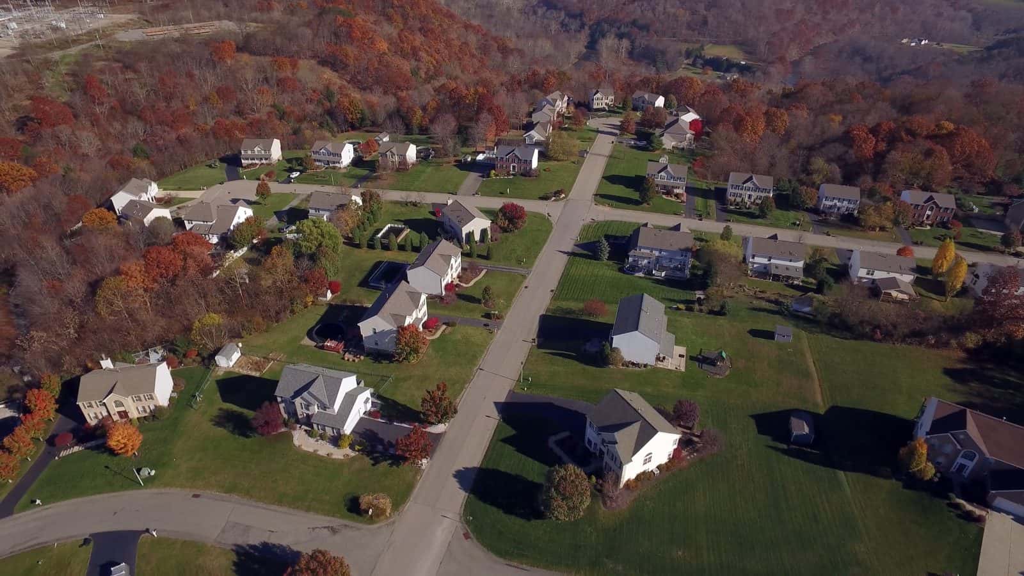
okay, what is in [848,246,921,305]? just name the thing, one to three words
house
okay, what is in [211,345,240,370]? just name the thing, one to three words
shed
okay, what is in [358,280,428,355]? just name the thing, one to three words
house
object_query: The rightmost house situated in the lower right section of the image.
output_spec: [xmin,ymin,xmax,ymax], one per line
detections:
[886,389,1024,529]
